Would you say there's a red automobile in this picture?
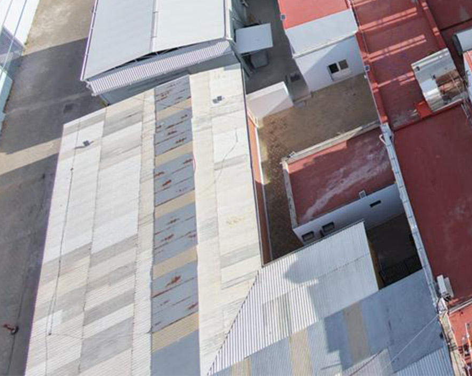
No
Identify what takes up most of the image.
buildings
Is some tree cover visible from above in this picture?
No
